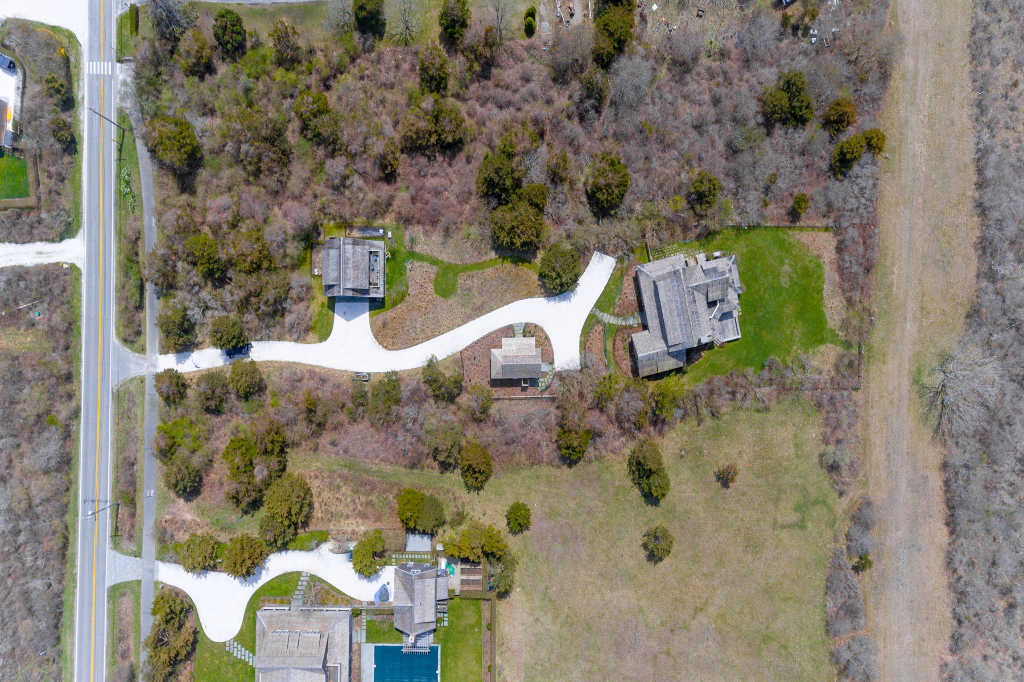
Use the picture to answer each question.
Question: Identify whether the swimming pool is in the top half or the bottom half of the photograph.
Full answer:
Seen from above, the swimming pool lies in the bottom half of the view.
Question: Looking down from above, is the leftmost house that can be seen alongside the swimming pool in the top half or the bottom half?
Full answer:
You can find the leftmost house that can be seen alongside the swimming pool in the bottom half.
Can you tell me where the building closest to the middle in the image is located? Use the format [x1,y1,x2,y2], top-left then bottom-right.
[491,338,541,386]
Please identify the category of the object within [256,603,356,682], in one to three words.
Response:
house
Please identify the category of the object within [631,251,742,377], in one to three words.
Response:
house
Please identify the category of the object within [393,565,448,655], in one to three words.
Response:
building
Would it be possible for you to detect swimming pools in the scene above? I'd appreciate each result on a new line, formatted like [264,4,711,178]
[361,644,441,682]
